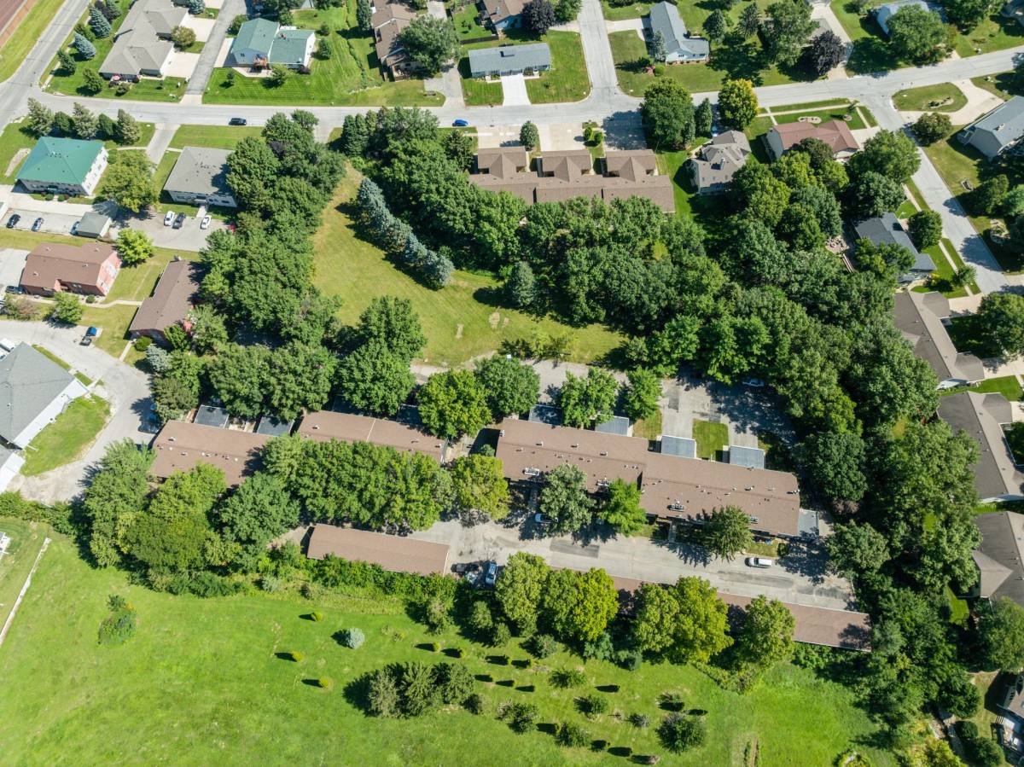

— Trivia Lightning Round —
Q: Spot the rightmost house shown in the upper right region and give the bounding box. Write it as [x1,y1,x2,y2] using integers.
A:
[964,86,1024,156]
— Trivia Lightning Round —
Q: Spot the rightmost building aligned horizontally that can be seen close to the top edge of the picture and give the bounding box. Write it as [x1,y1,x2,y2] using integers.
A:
[868,0,937,35]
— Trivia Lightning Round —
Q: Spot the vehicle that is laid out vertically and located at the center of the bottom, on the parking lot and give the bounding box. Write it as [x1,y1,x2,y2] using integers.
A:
[483,553,499,587]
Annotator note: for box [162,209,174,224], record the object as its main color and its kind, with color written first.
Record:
white vehicle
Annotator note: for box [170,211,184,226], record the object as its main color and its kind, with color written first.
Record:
gray car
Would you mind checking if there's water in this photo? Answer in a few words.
No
